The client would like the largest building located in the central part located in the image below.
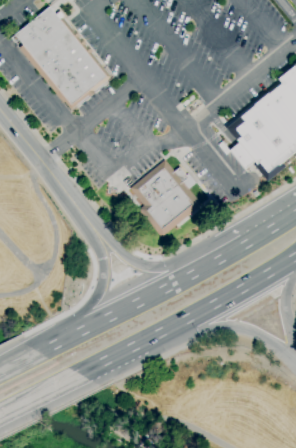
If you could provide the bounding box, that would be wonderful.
[130,160,198,235]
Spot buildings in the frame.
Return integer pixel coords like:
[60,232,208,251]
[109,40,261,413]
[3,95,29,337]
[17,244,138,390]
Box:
[15,3,110,110]
[222,63,296,180]
[130,160,198,235]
